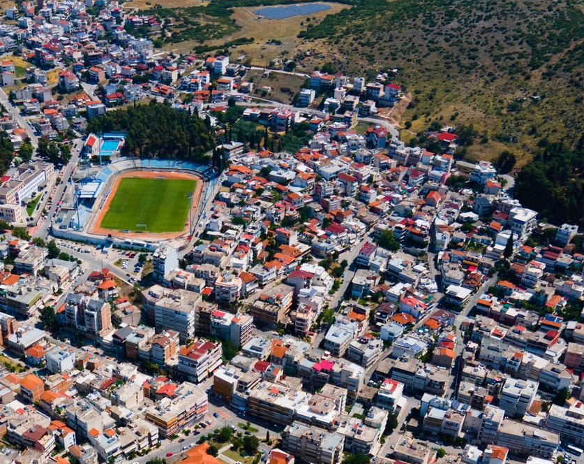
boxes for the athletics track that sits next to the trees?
[94,172,201,238]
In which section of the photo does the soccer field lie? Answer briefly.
left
